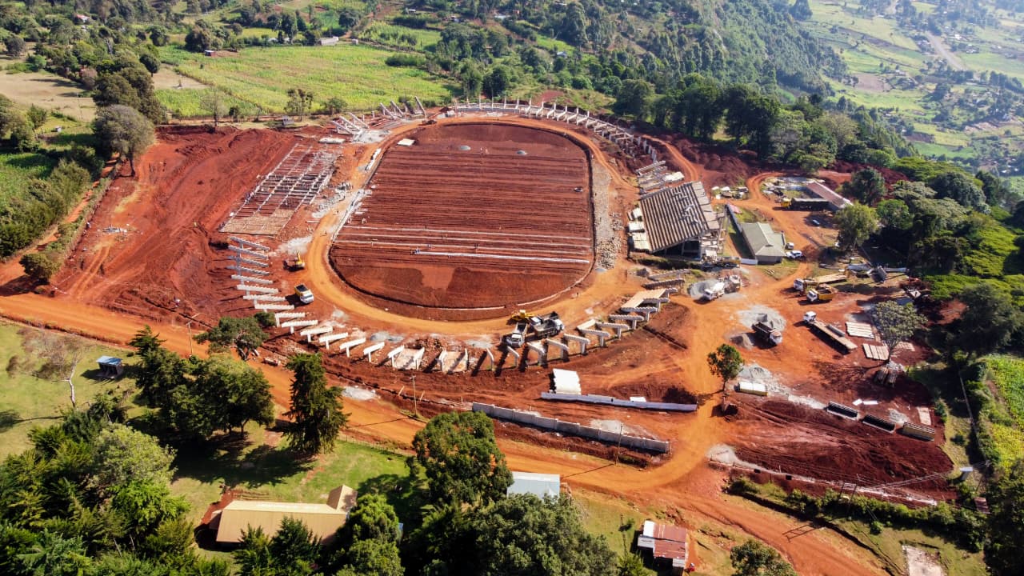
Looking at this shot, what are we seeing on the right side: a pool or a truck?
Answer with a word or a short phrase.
truck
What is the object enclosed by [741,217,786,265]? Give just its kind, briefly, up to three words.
house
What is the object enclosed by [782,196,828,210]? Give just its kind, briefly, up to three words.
vehicle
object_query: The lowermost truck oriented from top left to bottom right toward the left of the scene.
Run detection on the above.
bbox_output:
[290,279,313,301]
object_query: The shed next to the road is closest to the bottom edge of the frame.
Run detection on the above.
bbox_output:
[637,521,688,574]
